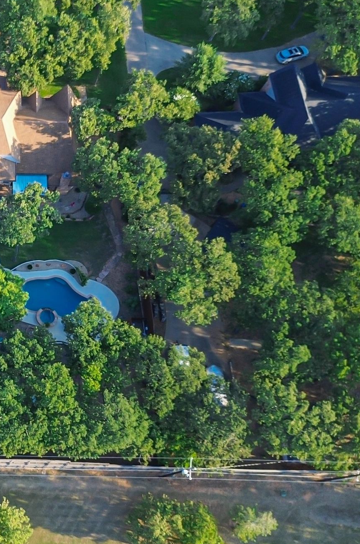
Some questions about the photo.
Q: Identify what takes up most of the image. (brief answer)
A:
trees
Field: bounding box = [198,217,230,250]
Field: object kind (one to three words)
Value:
shed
